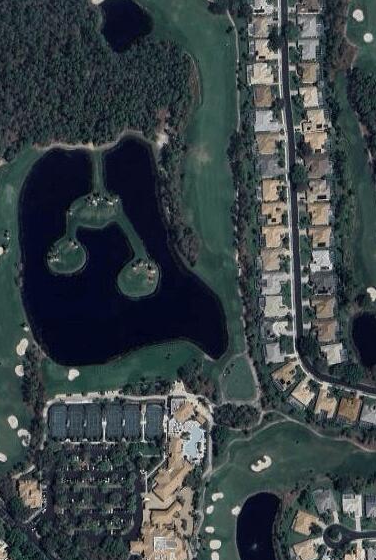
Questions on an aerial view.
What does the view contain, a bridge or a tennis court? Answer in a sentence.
This aerial view contains a tennis court.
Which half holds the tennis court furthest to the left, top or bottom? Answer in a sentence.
The bottom half of the photo is where the tennis court furthest to the left is.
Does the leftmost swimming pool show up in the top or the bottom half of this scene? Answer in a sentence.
It is in the bottom half that the leftmost swimming pool appears.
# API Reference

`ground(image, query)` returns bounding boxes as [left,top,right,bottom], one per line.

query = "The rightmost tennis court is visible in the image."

[146,404,162,439]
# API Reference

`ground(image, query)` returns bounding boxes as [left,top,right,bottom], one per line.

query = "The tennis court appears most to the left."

[48,404,67,439]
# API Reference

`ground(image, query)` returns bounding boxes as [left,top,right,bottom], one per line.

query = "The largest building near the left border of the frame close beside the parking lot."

[18,480,41,506]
